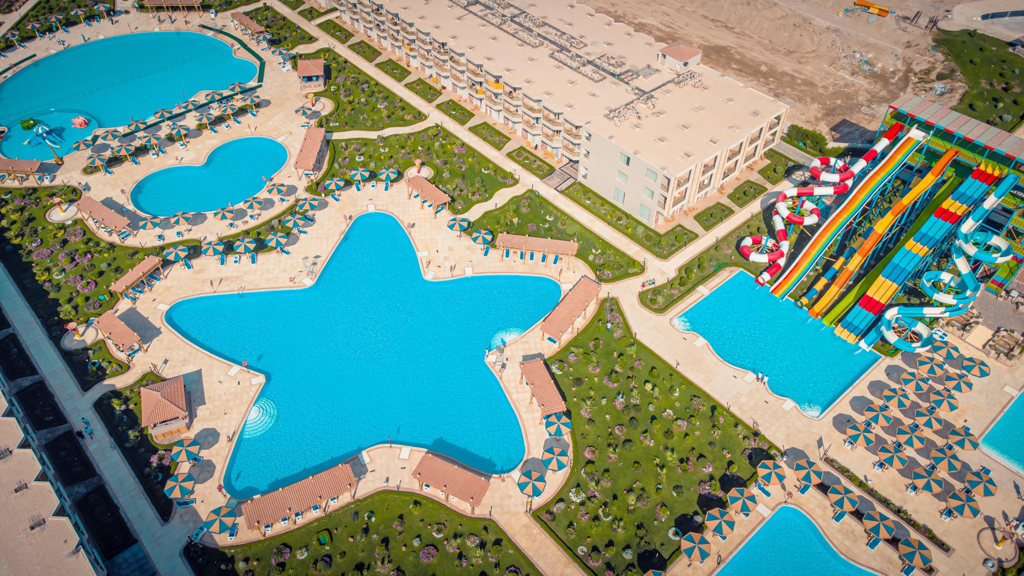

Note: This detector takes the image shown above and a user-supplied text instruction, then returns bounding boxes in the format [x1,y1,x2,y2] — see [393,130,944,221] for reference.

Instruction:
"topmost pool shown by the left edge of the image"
[0,29,259,163]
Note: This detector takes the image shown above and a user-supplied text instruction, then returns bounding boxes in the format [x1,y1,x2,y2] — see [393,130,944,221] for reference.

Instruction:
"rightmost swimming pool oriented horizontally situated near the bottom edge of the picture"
[706,501,891,576]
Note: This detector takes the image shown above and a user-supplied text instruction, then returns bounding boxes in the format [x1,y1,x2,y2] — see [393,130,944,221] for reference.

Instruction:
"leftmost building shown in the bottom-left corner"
[0,381,107,576]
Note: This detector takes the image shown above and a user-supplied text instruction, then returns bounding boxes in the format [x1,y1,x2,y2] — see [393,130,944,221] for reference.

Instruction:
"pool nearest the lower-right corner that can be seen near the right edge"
[976,388,1024,482]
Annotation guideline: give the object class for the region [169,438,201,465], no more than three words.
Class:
umbrella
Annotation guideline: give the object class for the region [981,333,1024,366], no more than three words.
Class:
fountain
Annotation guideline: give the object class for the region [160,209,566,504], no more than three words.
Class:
swimming pool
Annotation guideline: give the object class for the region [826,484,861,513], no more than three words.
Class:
umbrella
